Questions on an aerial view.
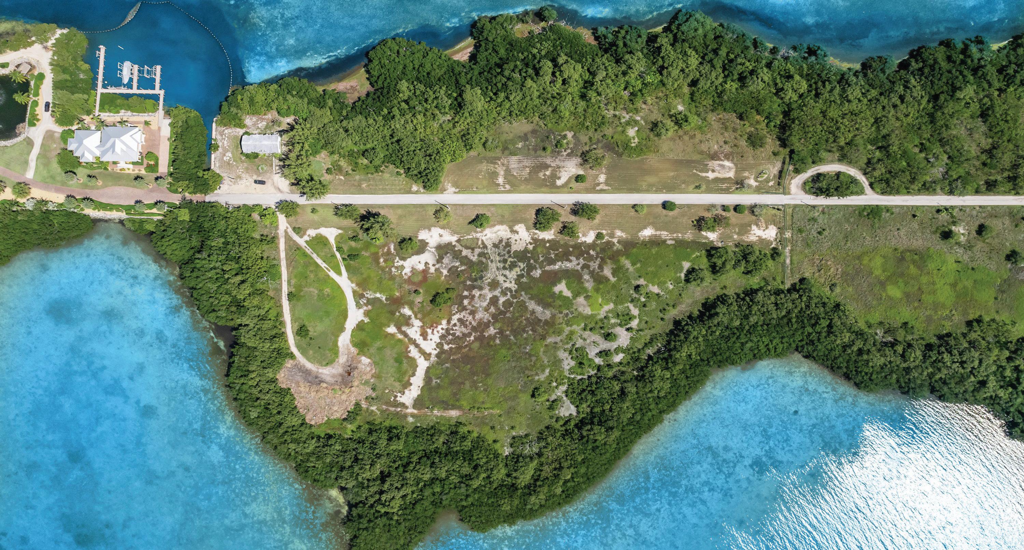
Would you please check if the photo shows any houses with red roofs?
No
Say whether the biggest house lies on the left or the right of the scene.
left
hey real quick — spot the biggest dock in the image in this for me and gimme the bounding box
[95,45,167,127]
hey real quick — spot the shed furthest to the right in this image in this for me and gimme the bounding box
[241,134,281,153]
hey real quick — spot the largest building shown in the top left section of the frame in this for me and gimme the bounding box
[68,123,145,169]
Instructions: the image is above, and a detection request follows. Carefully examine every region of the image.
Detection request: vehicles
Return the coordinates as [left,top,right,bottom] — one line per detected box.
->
[254,180,266,185]
[44,101,51,112]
